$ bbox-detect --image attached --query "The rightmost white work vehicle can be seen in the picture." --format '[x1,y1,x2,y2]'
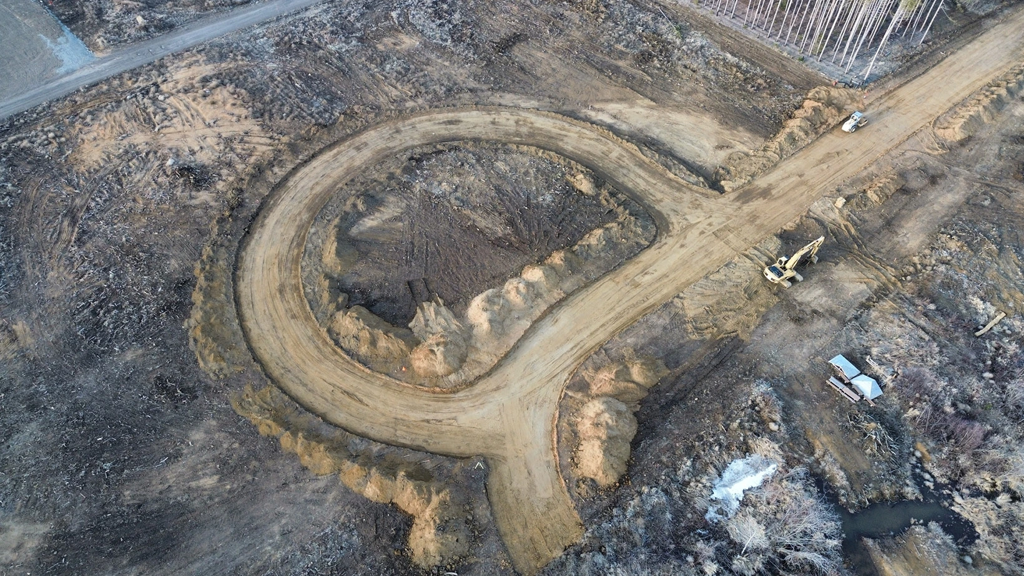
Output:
[839,112,870,136]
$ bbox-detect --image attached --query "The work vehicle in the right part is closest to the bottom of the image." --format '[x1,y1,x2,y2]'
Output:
[763,233,828,296]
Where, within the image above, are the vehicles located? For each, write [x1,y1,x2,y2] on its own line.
[839,112,870,136]
[763,233,828,296]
